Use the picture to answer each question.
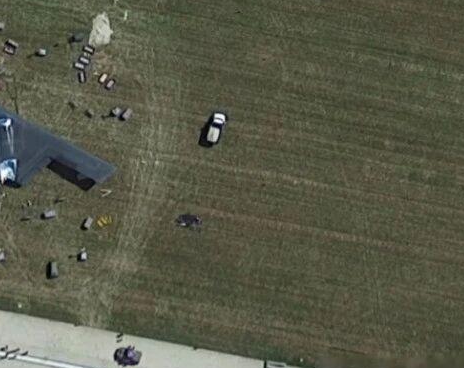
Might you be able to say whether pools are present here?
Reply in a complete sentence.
No, I can see no pool in this picture.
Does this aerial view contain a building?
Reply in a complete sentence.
No, the picture doesn't show any building.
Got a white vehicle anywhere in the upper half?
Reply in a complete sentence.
Yes, in the upper half there is a white vehicle.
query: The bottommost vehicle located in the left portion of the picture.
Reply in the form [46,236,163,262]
[114,347,141,365]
